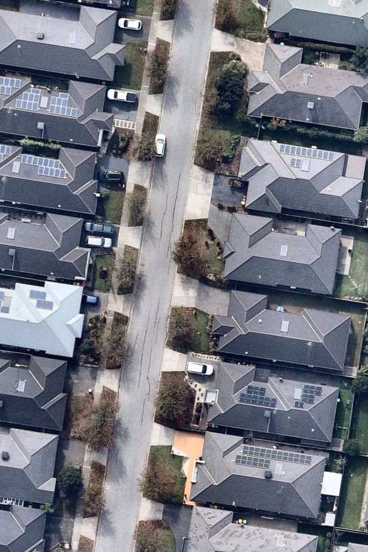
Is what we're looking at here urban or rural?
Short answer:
urban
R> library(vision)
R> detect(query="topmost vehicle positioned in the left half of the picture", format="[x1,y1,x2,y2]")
[117,18,143,31]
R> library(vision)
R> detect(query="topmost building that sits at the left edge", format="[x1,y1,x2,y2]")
[0,5,127,81]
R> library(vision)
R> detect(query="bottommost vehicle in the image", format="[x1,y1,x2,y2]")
[187,362,213,376]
